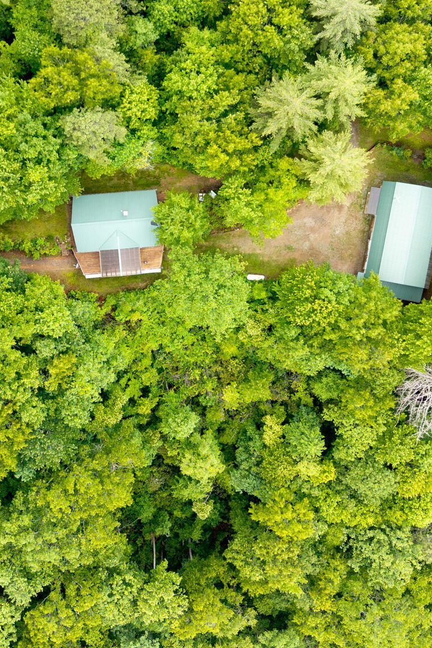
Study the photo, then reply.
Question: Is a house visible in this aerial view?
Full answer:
Yes, there is a house in the image.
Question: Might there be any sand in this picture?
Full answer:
No, no sand is visible.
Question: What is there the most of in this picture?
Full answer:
The bulk of the photo consists of trees.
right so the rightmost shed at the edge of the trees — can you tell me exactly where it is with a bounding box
[363,181,432,301]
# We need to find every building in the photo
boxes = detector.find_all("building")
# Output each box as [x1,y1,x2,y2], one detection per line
[70,189,164,278]
[363,181,432,301]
